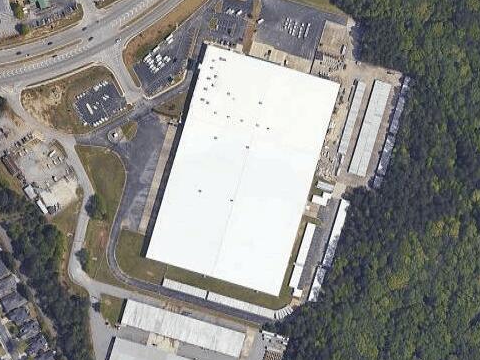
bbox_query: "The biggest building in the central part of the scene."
[146,44,340,297]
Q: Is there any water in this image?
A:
No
